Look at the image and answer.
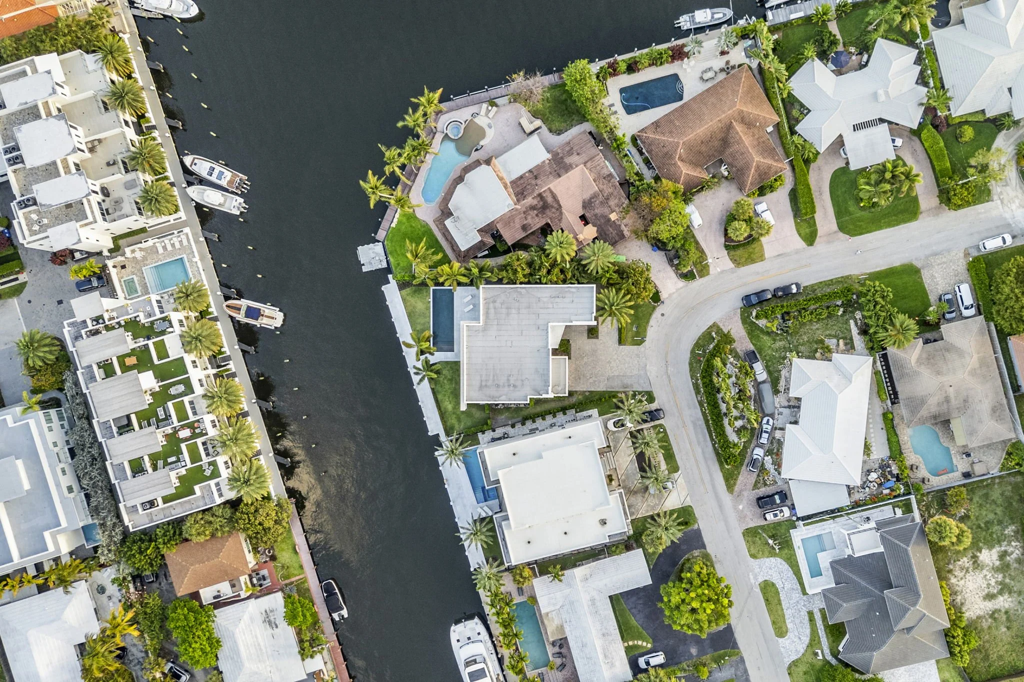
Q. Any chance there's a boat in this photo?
Yes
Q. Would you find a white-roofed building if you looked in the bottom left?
Yes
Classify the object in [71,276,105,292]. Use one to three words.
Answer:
car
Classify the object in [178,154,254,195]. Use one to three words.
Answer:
boat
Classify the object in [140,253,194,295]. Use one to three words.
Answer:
swimming pool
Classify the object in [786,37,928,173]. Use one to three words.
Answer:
house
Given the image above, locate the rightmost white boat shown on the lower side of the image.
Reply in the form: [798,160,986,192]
[453,620,507,682]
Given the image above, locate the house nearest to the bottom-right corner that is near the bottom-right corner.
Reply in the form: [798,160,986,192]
[817,513,950,675]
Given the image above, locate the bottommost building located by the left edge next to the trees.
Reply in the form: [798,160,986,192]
[0,578,107,682]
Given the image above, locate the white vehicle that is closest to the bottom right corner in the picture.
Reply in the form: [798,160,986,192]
[763,507,794,523]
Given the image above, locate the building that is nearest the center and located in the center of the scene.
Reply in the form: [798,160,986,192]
[460,284,596,411]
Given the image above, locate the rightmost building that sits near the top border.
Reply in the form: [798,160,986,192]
[929,0,1024,121]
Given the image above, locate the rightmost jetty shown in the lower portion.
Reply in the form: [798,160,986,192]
[382,274,501,571]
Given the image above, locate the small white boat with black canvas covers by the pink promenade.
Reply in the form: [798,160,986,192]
[320,582,349,625]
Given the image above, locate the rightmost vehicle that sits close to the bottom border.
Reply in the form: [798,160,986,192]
[638,653,667,670]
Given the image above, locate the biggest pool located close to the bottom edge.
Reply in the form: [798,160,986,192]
[512,600,552,673]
